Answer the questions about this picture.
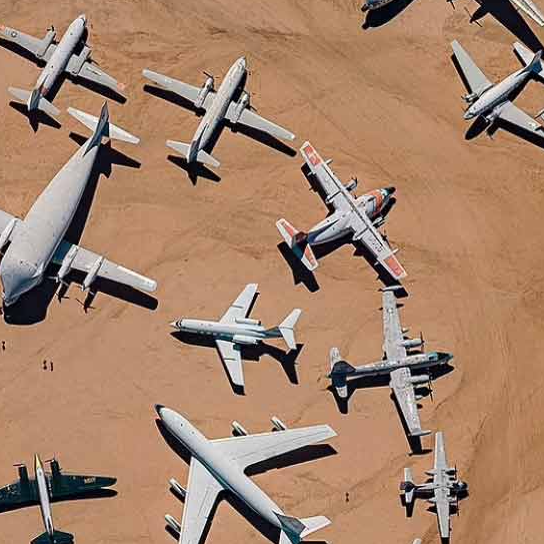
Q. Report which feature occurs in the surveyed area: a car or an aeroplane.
aeroplane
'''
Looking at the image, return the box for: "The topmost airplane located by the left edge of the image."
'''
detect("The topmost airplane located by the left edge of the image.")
[0,17,125,115]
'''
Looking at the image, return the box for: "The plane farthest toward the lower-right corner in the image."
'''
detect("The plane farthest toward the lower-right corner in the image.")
[399,431,465,536]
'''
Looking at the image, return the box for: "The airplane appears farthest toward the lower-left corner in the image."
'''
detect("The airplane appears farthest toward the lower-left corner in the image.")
[0,453,118,544]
